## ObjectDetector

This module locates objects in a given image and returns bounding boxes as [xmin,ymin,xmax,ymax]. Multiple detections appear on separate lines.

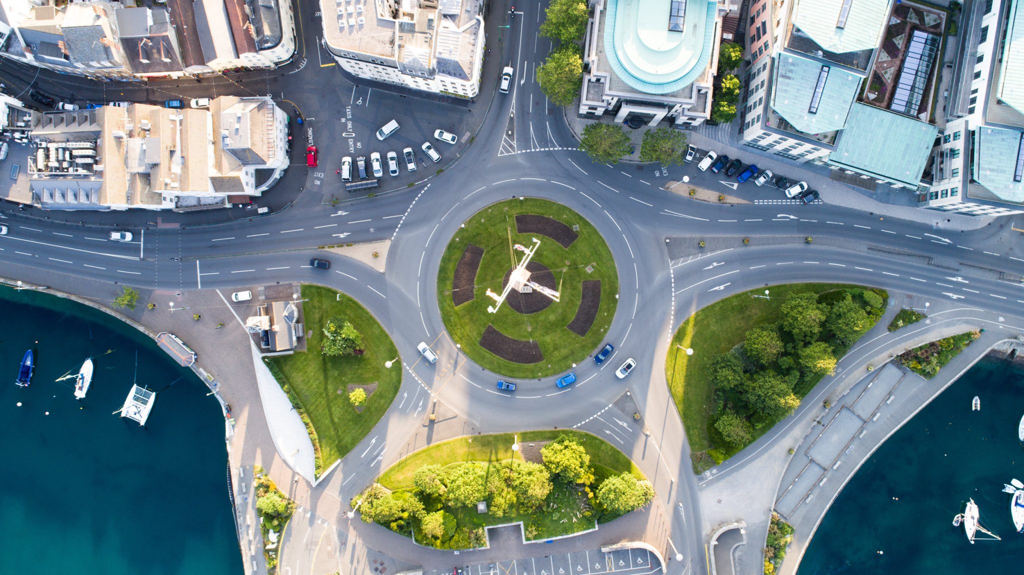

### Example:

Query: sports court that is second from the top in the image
[804,404,867,470]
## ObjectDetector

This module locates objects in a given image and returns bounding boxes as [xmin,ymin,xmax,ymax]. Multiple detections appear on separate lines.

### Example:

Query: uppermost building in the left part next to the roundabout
[319,0,488,100]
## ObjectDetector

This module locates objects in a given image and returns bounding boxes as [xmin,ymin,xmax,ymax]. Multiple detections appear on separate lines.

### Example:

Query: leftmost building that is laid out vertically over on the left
[0,93,49,205]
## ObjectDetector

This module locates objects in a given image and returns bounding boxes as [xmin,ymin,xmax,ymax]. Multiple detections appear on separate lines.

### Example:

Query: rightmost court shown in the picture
[849,362,907,422]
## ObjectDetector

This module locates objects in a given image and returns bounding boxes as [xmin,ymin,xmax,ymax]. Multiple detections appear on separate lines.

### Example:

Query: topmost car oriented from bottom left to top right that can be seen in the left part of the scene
[376,119,400,140]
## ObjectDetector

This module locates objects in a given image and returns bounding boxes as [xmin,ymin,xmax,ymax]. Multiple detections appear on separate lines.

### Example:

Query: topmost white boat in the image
[51,360,92,398]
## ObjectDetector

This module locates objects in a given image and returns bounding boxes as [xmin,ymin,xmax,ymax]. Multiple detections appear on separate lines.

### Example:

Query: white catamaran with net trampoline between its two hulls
[106,383,156,430]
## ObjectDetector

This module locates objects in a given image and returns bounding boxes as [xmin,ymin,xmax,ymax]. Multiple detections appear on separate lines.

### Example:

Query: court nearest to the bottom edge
[775,460,828,520]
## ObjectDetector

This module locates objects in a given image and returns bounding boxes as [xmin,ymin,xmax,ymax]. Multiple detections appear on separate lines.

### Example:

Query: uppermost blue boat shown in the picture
[17,351,32,388]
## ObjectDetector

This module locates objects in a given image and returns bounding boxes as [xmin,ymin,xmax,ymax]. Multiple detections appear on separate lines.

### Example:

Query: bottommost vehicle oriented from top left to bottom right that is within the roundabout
[418,341,438,364]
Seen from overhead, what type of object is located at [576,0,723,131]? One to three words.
building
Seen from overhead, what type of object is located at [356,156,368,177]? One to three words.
vehicle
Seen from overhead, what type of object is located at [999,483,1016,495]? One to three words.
boat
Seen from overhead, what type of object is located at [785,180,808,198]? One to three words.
car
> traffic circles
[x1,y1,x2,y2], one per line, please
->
[384,144,673,432]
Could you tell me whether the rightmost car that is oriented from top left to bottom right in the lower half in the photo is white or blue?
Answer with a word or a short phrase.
white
